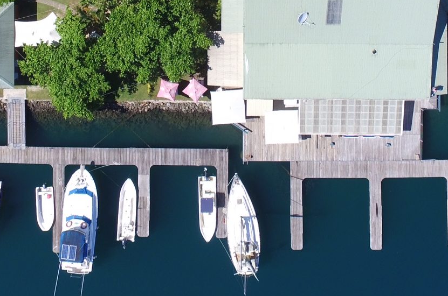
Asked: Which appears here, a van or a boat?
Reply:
boat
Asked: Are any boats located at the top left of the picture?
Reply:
No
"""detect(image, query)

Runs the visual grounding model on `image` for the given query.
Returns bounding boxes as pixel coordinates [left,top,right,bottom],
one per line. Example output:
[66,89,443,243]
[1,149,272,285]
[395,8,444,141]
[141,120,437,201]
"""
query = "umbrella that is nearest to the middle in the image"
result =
[210,89,245,125]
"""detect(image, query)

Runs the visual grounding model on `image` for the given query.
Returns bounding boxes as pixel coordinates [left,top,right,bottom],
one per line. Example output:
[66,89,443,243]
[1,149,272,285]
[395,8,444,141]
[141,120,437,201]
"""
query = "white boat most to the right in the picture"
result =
[224,172,259,296]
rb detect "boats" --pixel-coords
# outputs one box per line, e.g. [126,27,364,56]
[224,172,259,296]
[198,169,217,243]
[35,182,55,231]
[117,178,138,250]
[54,164,98,295]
